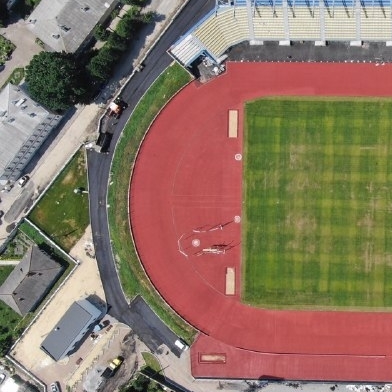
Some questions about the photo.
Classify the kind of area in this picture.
sports ground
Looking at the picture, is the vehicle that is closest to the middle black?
Yes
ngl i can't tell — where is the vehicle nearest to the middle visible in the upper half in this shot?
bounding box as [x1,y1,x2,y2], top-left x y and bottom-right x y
[94,127,113,153]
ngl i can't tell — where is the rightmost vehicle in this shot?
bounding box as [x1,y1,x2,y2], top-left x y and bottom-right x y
[171,337,188,350]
